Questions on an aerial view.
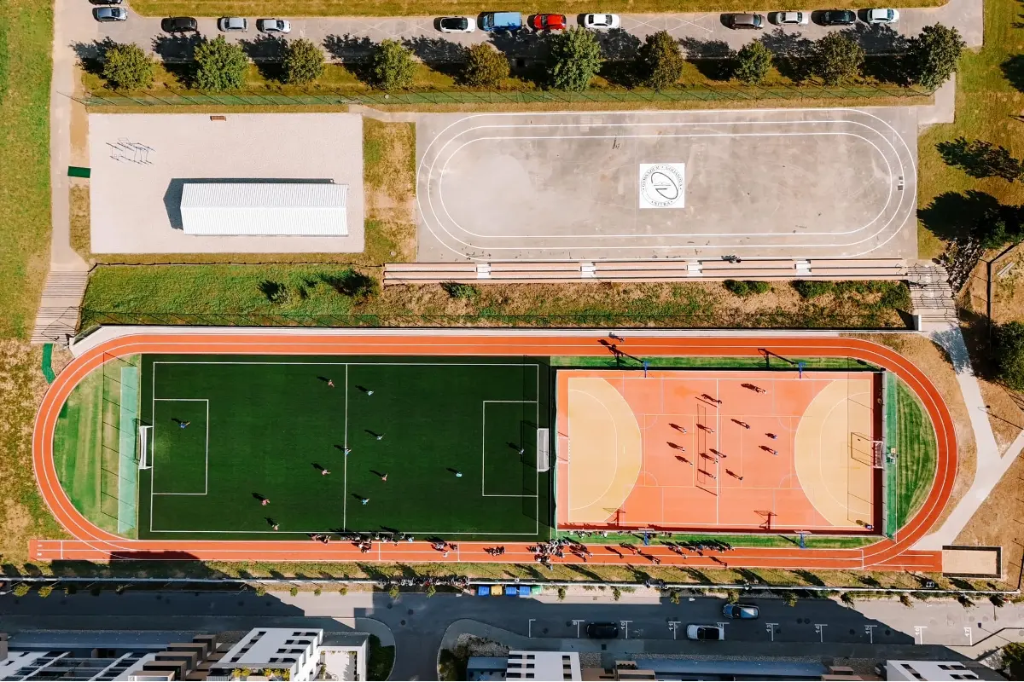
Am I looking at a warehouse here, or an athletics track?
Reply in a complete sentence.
This aerial view contains an athletics track.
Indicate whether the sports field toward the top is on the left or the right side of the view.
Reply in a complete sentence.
The sports field toward the top appears in the right half of the scene.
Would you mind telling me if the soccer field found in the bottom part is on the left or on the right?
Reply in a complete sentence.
It is on the left.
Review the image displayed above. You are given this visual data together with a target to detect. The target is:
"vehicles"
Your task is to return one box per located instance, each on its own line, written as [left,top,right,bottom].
[584,10,619,30]
[533,11,565,31]
[586,620,618,641]
[730,10,763,30]
[821,7,857,27]
[162,14,197,34]
[483,9,521,32]
[218,14,249,32]
[722,602,759,622]
[91,0,126,10]
[864,5,898,25]
[259,16,291,34]
[96,4,130,23]
[440,14,474,34]
[686,622,724,643]
[774,7,807,27]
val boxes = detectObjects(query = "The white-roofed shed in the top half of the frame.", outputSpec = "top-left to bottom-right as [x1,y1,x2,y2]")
[180,182,354,239]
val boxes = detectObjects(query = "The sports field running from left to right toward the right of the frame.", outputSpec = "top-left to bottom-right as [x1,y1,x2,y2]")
[416,106,918,262]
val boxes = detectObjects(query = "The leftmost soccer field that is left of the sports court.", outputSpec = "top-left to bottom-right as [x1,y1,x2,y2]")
[138,354,551,542]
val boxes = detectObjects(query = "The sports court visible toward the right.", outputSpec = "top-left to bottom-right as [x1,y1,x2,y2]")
[557,370,882,534]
